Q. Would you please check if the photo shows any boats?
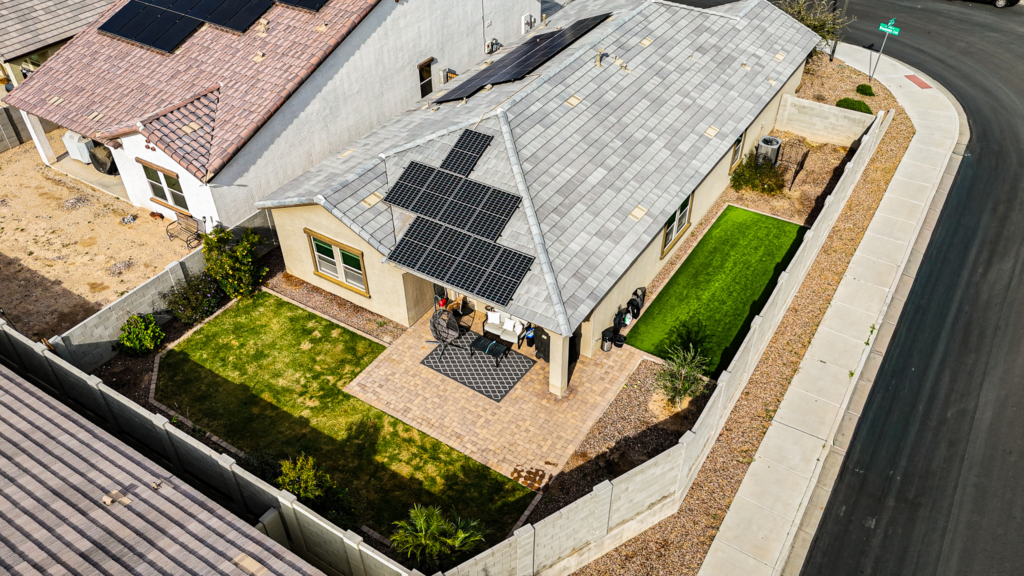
No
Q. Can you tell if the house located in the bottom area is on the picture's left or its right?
left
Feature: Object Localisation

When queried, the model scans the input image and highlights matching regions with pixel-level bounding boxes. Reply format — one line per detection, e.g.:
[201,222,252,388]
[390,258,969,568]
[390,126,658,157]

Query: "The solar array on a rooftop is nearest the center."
[382,130,535,309]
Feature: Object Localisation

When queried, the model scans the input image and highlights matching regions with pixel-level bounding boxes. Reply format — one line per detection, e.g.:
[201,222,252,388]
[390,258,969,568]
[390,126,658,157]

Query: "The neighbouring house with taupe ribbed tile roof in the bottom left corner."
[0,363,329,576]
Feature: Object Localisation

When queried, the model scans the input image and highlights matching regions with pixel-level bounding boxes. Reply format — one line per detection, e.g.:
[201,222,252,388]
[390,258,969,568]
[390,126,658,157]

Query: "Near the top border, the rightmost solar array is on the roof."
[429,9,617,104]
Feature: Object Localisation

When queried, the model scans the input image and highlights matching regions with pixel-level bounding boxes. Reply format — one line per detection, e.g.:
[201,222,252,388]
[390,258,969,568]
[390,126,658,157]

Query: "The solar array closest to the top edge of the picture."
[95,0,328,51]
